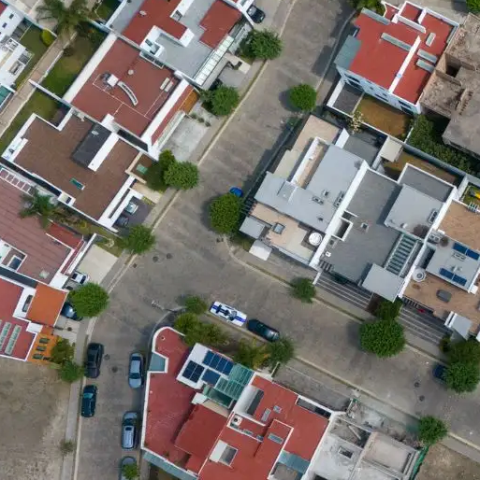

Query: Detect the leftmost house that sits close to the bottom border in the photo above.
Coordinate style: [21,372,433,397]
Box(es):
[140,327,265,480]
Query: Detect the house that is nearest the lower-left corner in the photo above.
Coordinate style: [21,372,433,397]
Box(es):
[0,274,75,362]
